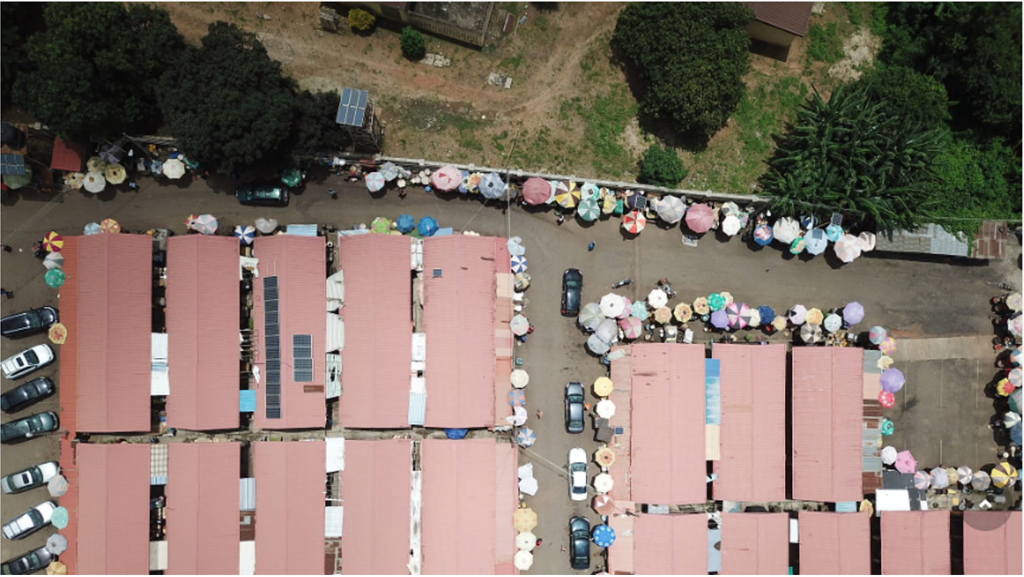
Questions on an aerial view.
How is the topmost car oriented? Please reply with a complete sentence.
In this picture, the topmost car lies from side to side.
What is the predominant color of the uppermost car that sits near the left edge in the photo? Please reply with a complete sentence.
The uppermost car that sits near the left edge is black.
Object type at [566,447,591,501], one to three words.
car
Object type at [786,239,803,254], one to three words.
umbrella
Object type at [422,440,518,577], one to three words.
building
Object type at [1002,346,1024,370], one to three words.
umbrella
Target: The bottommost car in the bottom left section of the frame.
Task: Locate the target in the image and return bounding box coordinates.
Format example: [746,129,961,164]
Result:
[0,539,55,574]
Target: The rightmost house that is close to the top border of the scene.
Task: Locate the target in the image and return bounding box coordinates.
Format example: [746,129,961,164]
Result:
[725,0,816,51]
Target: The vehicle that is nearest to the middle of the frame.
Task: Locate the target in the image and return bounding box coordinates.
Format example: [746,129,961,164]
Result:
[560,267,585,318]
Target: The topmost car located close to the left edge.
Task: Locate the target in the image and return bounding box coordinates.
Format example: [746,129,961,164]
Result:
[0,305,57,338]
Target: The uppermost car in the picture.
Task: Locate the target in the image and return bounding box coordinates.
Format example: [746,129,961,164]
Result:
[235,182,291,209]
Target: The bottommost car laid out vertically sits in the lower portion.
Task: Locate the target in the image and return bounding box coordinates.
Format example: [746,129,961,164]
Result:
[568,515,593,571]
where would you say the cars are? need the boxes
[560,267,585,318]
[0,343,57,379]
[0,411,59,442]
[0,502,57,540]
[0,539,55,574]
[568,515,593,571]
[563,381,588,433]
[0,305,57,338]
[0,462,60,493]
[235,182,291,209]
[566,447,591,501]
[0,377,56,413]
